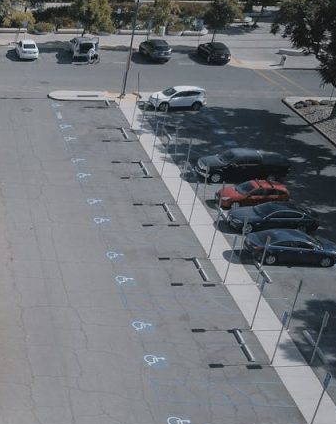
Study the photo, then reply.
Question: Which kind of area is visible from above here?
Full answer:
This looks like a parking lot.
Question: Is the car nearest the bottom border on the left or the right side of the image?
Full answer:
The car nearest the bottom border appears in the right half of the scene.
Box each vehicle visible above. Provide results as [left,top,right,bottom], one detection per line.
[196,144,297,179]
[147,84,209,111]
[143,37,173,59]
[67,34,97,58]
[199,41,235,61]
[18,38,40,57]
[226,199,325,232]
[214,175,297,208]
[244,228,336,265]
